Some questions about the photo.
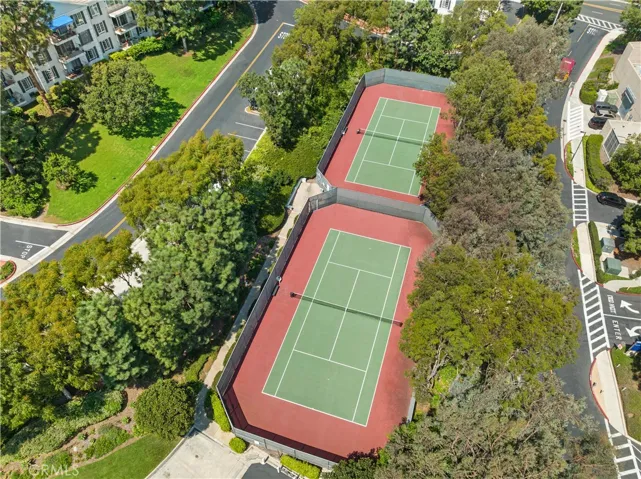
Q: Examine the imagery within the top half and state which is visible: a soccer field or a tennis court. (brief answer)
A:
tennis court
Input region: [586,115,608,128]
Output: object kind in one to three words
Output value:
vehicle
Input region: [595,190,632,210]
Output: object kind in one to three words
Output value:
car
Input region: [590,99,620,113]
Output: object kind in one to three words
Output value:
car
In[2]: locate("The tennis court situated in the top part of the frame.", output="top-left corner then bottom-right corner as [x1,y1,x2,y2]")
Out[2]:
[327,83,452,208]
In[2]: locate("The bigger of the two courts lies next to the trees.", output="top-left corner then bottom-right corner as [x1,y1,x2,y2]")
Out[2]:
[223,202,437,471]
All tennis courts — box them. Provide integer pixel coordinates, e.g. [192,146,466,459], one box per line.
[223,202,437,471]
[327,83,452,208]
